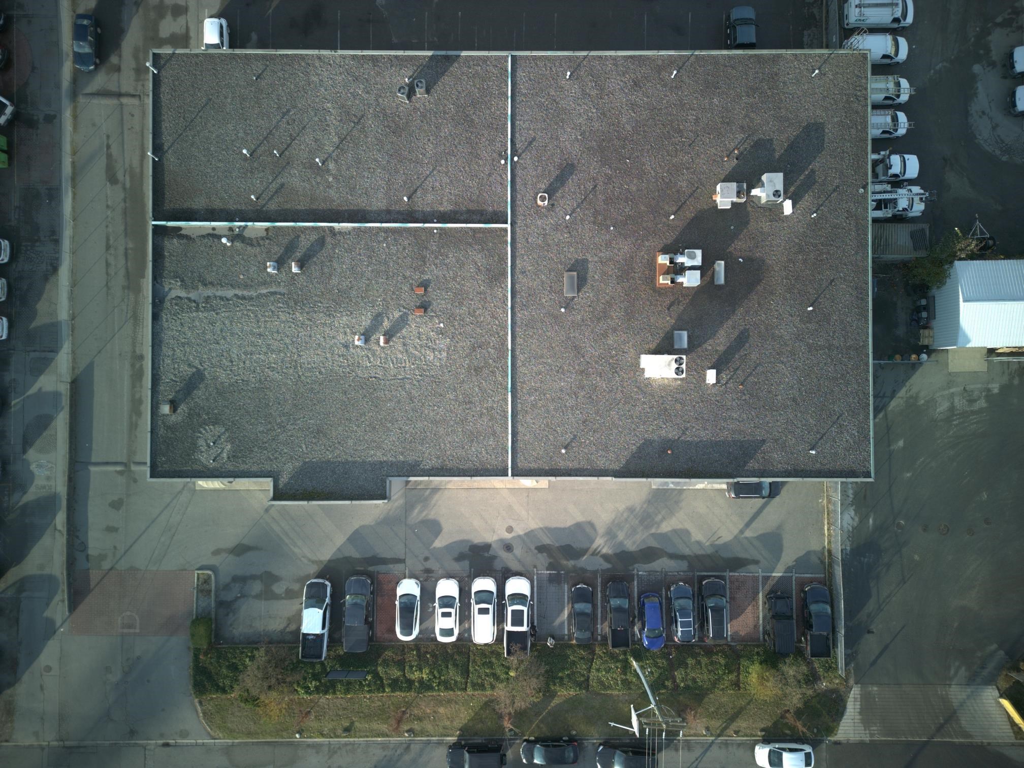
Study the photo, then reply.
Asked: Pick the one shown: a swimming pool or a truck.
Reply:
truck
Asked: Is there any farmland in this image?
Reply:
No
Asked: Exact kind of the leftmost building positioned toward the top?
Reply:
warehouse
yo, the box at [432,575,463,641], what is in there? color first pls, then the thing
white car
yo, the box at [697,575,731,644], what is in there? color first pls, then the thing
black car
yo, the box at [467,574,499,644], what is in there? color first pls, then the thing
white car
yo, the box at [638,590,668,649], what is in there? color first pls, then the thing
blue car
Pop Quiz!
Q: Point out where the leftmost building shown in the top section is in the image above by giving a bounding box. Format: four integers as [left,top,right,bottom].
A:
[148,49,874,504]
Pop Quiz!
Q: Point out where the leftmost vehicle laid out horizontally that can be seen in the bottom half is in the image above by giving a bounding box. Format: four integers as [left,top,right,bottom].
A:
[445,739,505,768]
